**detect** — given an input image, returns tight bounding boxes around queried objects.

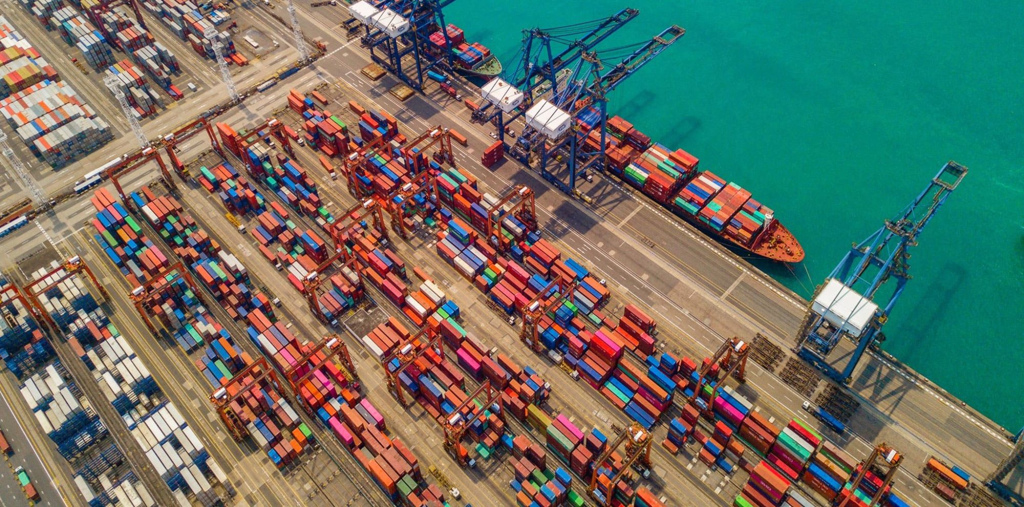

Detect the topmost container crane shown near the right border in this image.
[789,156,974,386]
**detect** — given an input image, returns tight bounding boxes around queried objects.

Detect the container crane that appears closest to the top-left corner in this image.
[87,0,147,44]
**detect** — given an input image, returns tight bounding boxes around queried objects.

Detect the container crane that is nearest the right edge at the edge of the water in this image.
[980,428,1024,504]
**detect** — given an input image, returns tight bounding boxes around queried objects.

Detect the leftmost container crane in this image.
[0,282,42,328]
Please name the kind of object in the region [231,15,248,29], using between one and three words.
work vehicle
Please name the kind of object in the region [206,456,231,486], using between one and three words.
shipping container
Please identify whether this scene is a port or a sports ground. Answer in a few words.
port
